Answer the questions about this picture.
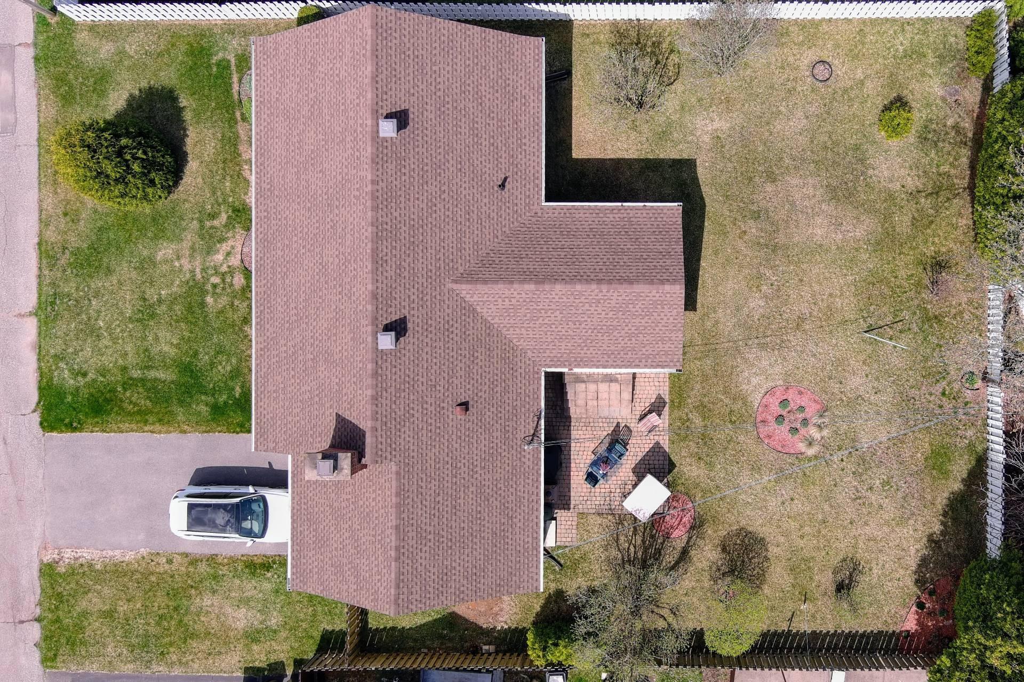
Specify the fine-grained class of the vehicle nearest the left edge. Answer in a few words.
car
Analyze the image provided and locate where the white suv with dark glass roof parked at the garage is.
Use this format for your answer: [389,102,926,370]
[169,481,286,547]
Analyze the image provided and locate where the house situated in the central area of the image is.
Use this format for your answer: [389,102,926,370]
[250,4,684,616]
